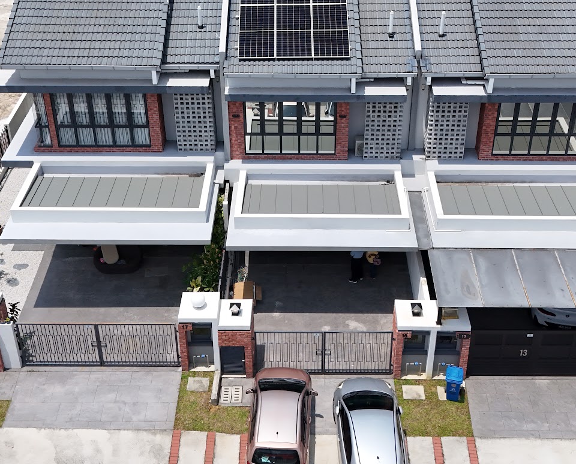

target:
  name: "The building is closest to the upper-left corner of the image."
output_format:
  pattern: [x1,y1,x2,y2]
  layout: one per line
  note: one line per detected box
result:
[0,0,228,245]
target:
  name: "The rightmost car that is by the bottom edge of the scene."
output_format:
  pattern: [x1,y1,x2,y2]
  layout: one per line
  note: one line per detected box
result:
[332,375,406,464]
